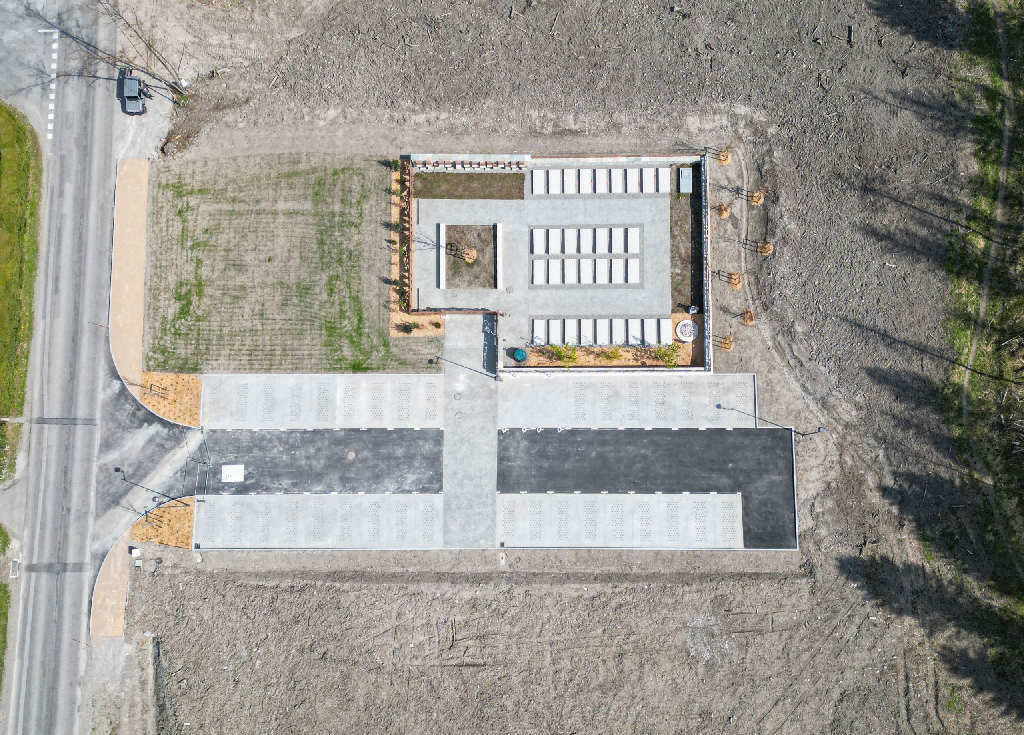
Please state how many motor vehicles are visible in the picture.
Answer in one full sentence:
Altogether the scene contains 1 motor vehicle.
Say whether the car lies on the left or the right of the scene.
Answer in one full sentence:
The car sits on the left side.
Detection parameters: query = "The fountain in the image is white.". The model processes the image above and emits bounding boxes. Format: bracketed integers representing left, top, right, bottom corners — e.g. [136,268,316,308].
[677,320,698,341]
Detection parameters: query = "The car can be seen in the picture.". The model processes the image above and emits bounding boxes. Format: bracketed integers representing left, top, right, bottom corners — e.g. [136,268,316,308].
[123,66,152,114]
